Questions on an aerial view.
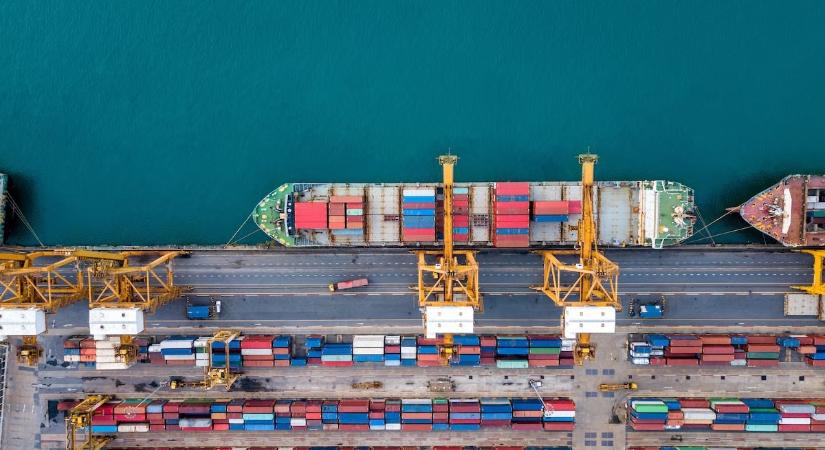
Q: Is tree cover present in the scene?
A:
No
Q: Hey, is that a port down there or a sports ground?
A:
port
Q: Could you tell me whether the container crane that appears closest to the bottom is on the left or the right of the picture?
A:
left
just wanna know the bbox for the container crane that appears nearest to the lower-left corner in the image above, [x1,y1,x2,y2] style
[66,394,120,450]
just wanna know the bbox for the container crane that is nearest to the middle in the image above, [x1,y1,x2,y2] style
[407,155,487,365]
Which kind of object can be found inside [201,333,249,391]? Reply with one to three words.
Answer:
container crane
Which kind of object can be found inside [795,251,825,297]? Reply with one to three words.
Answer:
container crane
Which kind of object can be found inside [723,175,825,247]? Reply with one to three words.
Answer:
ship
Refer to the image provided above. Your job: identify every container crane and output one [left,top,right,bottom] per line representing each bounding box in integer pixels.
[407,155,487,365]
[201,333,249,391]
[795,251,825,297]
[41,248,189,365]
[0,250,97,365]
[66,394,120,450]
[532,147,624,365]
